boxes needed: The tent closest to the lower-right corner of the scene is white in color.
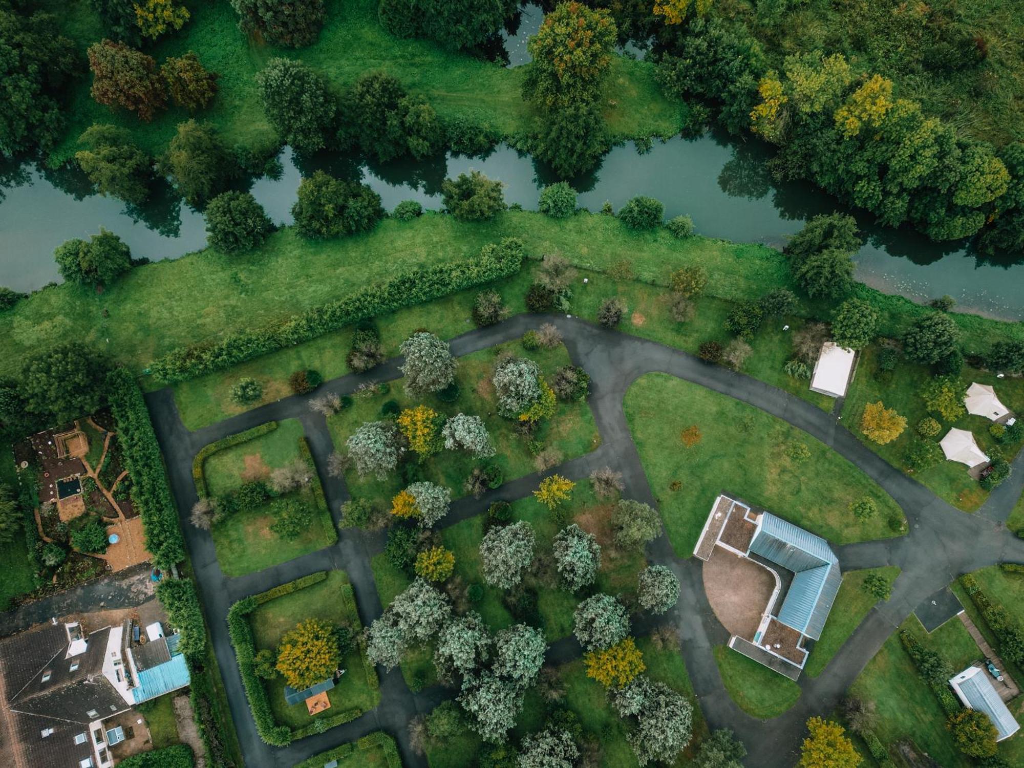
[937,427,988,468]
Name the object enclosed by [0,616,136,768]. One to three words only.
house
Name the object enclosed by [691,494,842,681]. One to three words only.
building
